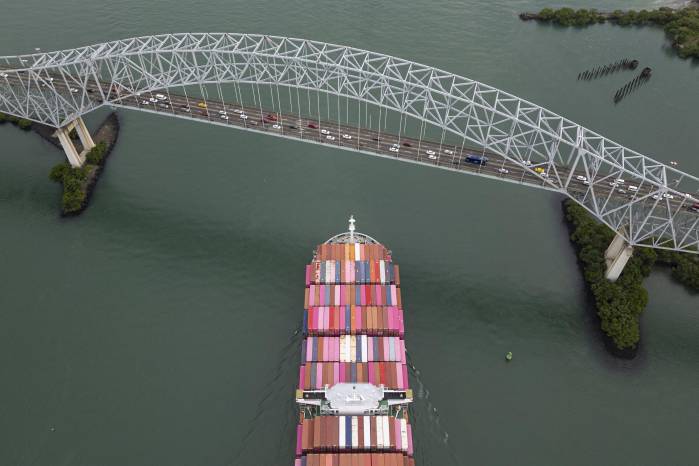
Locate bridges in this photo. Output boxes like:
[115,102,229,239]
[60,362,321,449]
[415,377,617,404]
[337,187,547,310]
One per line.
[0,32,699,281]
